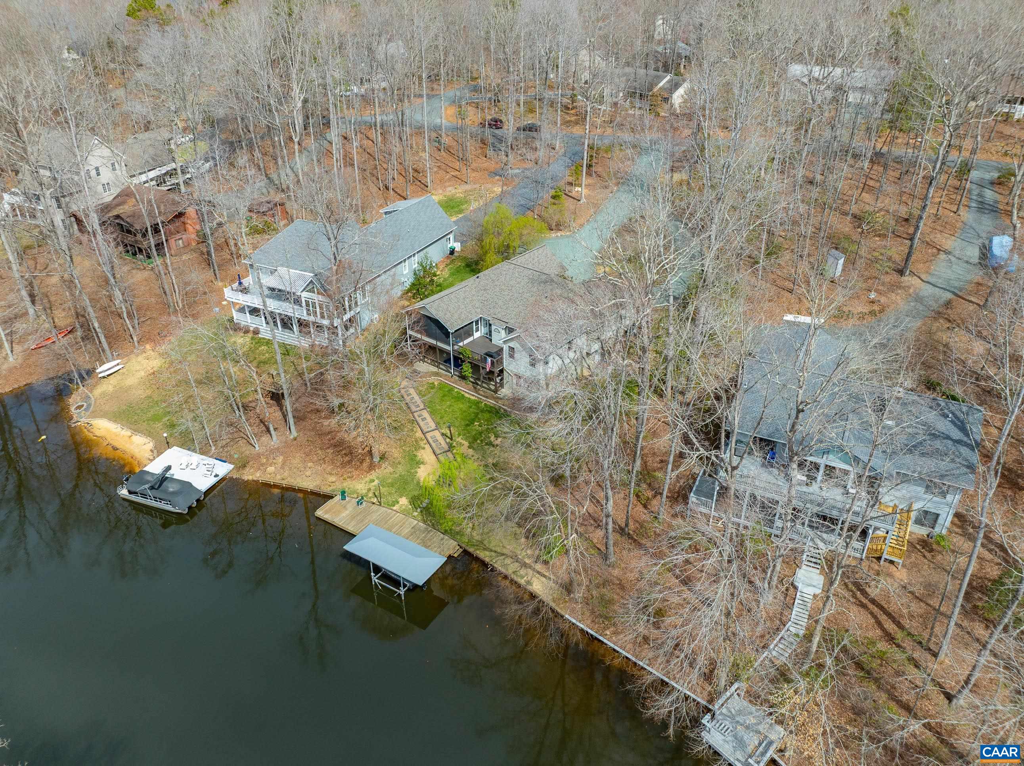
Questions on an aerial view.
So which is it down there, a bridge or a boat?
boat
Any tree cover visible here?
Yes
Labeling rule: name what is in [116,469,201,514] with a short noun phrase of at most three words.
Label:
boat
